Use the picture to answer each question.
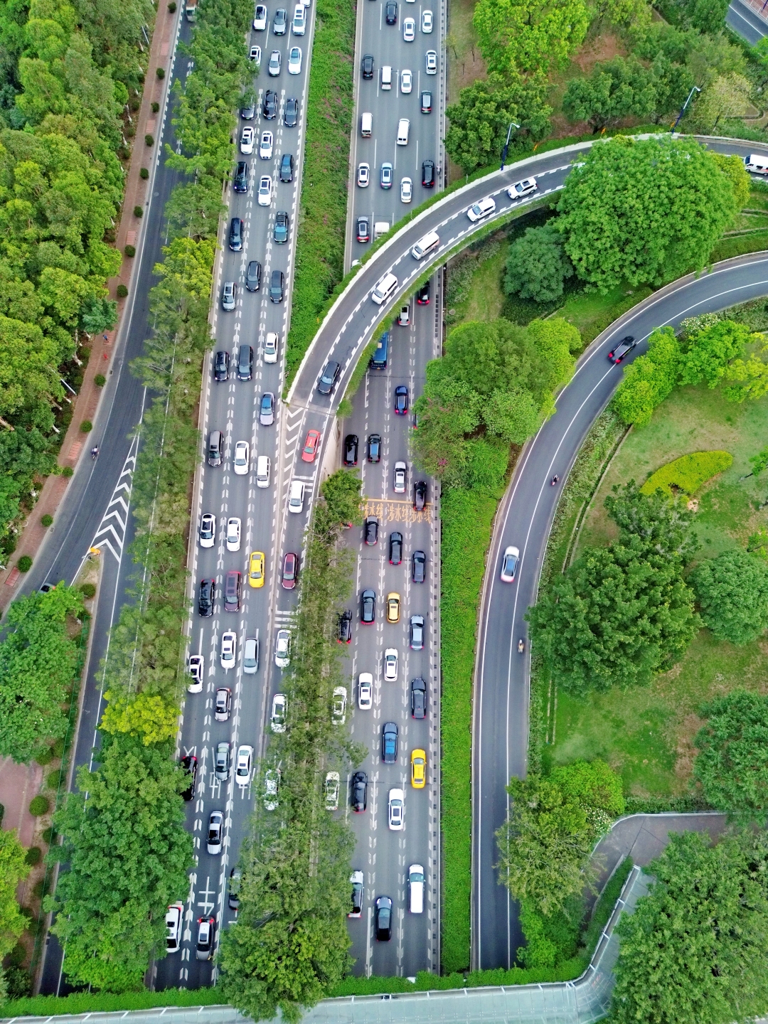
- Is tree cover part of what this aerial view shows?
Yes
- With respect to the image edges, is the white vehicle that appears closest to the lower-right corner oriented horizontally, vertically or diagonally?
vertically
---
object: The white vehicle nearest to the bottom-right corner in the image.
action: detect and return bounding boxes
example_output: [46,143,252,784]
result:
[406,861,427,916]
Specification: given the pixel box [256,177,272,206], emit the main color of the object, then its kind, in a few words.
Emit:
white car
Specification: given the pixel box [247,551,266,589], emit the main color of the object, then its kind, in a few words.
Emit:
yellow car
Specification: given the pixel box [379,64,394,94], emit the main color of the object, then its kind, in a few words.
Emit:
white vehicle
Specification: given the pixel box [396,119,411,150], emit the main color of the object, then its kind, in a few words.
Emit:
white vehicle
